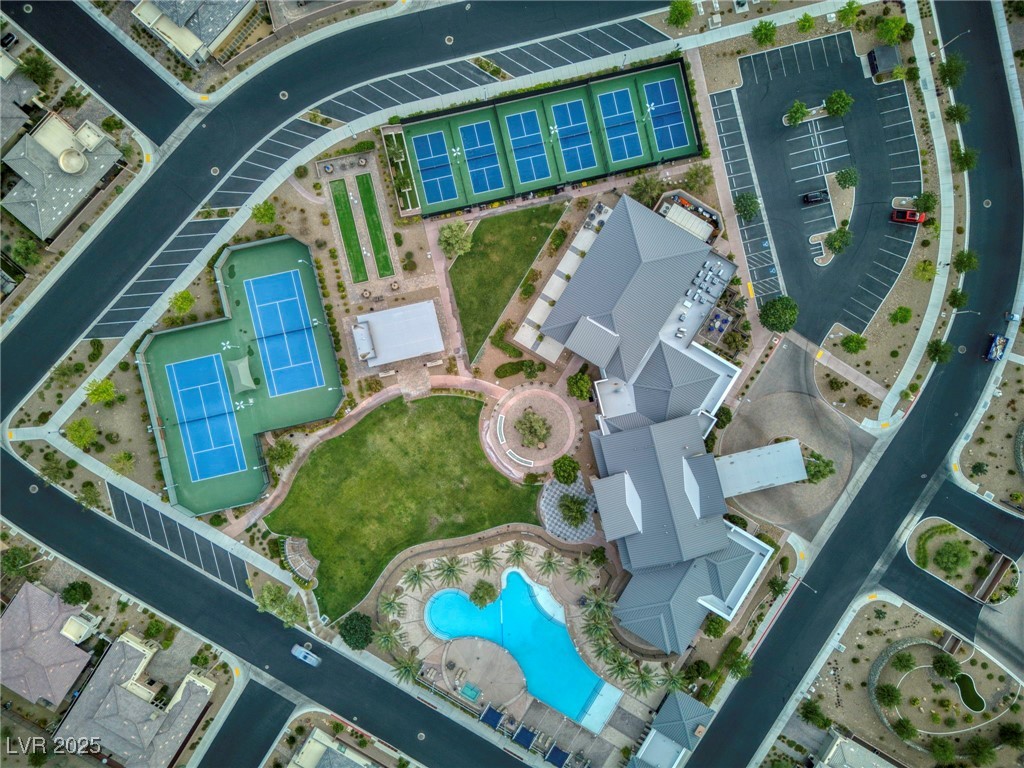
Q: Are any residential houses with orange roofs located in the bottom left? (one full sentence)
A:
No, I can find no residential house with an orange roof in the bottom left.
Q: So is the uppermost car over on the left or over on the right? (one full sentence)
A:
The uppermost car sits on the left side.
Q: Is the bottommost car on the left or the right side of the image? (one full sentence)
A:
The bottommost car sits on the left side.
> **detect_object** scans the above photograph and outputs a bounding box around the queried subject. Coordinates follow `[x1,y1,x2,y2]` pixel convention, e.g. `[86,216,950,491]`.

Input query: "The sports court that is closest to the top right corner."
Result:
[635,64,697,157]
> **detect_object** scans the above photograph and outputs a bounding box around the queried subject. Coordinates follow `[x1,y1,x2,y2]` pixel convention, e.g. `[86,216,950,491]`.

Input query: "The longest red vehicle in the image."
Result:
[891,210,924,223]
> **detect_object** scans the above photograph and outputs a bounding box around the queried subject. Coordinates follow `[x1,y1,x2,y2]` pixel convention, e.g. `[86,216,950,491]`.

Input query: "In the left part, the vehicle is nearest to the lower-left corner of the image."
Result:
[292,645,320,667]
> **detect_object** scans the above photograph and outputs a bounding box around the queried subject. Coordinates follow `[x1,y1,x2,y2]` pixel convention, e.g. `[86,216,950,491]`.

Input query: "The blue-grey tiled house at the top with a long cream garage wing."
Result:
[131,0,261,76]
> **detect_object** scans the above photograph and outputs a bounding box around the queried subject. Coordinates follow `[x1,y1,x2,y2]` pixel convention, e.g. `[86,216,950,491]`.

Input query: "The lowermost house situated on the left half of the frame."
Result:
[295,720,376,768]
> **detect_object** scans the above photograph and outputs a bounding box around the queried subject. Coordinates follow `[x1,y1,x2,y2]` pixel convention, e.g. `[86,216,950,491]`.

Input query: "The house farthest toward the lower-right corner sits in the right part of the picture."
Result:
[810,722,891,768]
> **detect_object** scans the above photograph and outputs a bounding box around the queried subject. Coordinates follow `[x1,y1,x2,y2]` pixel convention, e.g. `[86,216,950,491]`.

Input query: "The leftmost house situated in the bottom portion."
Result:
[0,581,112,713]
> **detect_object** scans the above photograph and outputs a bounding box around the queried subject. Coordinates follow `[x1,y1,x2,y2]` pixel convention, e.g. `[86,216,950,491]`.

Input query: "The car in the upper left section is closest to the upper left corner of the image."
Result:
[0,28,20,52]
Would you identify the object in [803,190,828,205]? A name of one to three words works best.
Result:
car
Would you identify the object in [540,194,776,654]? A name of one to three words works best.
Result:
building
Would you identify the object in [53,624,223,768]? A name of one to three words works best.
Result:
house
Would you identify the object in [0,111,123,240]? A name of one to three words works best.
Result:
house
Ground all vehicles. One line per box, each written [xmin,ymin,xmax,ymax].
[891,210,924,223]
[803,190,828,205]
[292,645,320,667]
[0,28,20,52]
[1001,314,1020,321]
